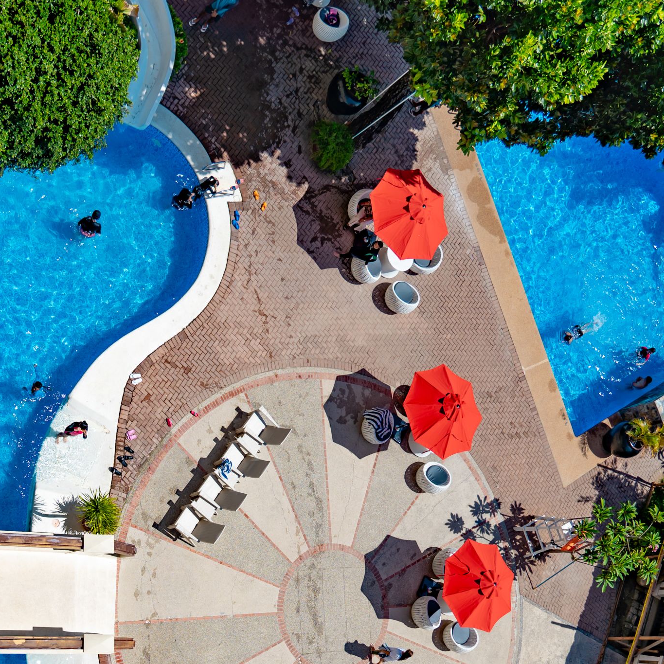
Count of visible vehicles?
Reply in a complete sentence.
The count of vehicles is 0.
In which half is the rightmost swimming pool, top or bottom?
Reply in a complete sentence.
Seen from above, the rightmost swimming pool lies in the top half of the view.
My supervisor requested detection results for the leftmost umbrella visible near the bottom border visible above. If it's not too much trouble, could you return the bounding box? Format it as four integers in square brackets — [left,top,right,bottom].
[442,539,514,632]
